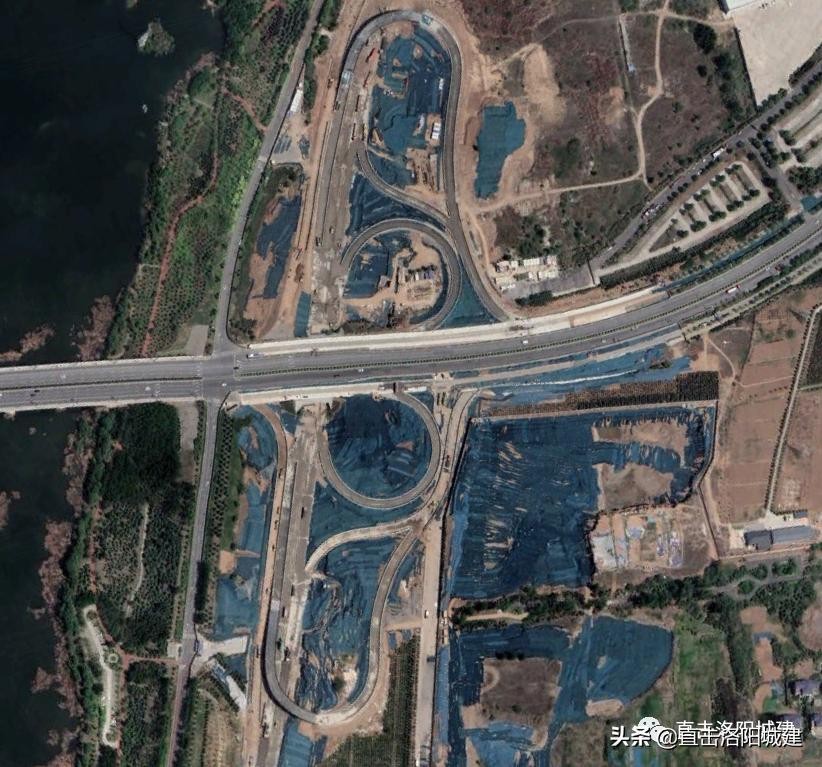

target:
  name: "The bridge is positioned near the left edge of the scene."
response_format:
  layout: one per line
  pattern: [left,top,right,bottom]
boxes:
[0,361,118,411]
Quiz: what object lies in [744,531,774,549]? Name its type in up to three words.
house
